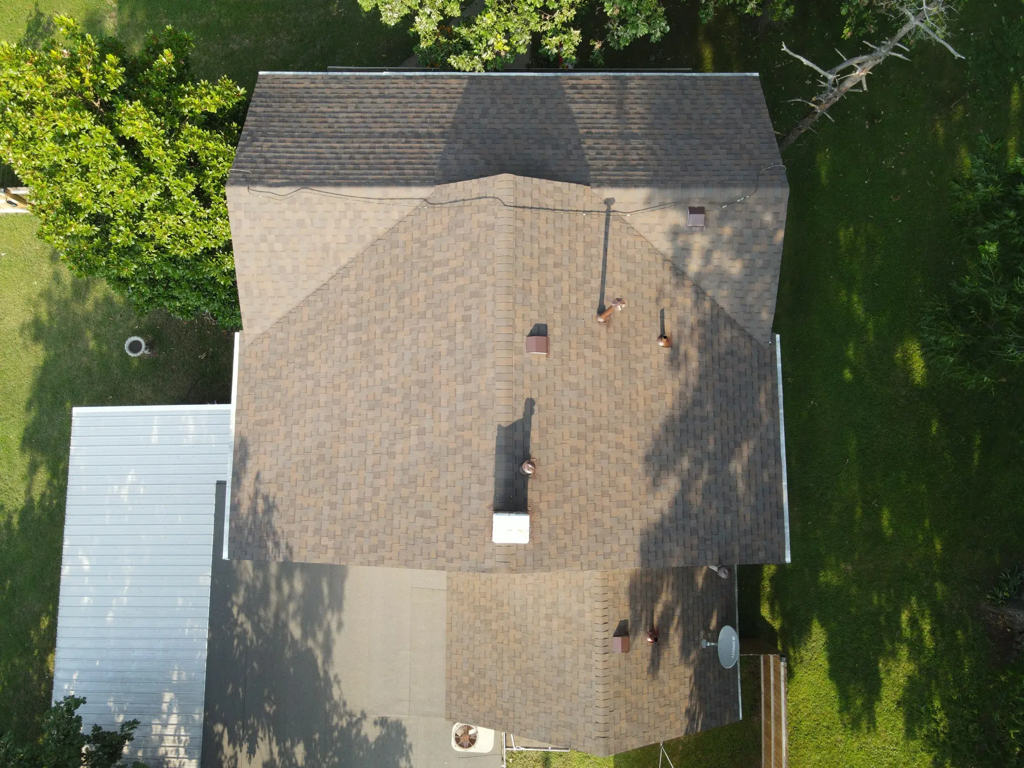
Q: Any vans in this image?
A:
No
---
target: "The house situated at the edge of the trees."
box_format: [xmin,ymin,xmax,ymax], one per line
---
[204,70,790,768]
